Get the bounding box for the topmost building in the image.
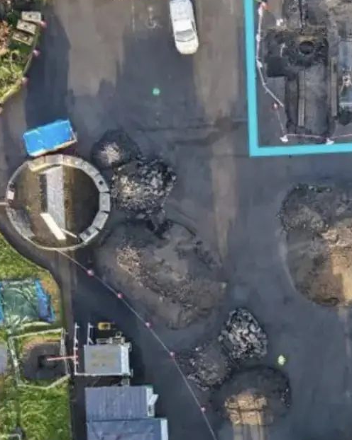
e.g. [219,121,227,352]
[87,385,166,419]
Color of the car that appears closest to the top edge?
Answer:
white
